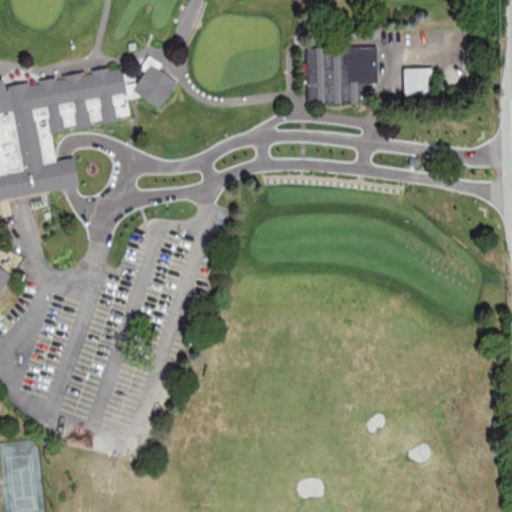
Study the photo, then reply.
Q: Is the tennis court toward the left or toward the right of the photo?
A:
left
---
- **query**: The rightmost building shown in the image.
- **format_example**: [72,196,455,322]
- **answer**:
[404,66,433,96]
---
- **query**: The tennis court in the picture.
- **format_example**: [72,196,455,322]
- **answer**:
[0,441,45,512]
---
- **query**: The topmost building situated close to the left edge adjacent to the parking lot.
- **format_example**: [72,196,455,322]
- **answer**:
[0,68,141,200]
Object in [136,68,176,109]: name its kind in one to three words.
building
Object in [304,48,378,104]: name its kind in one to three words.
building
